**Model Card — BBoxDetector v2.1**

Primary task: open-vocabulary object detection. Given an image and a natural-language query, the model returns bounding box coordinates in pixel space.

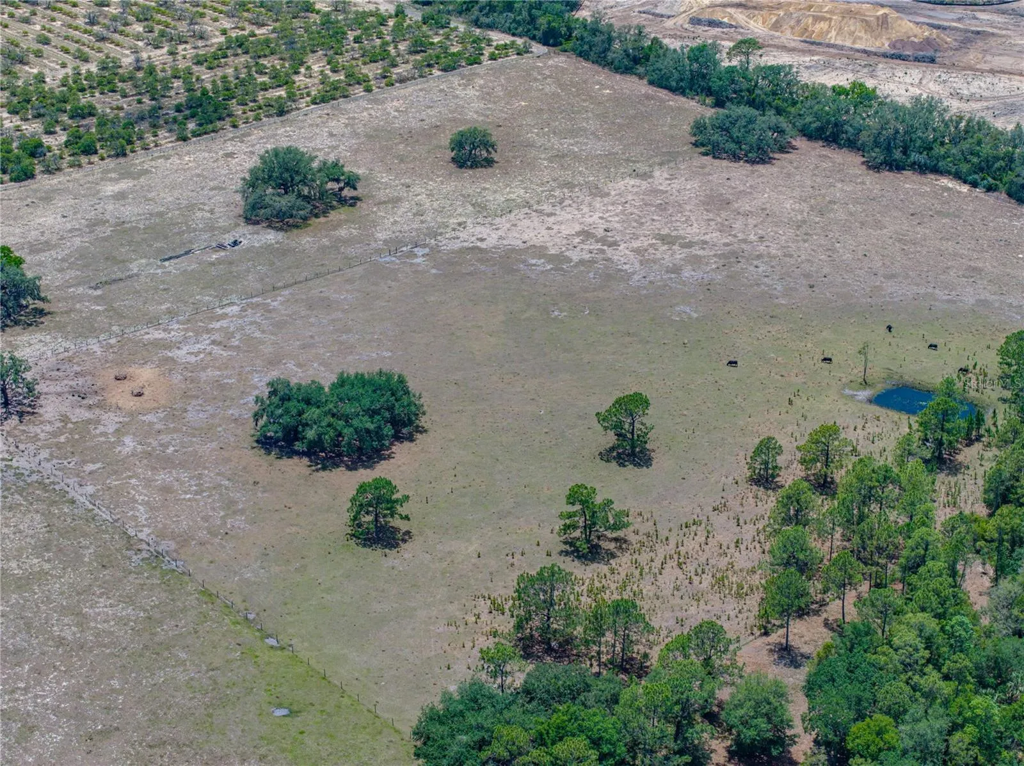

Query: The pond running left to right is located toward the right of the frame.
[873,387,985,425]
